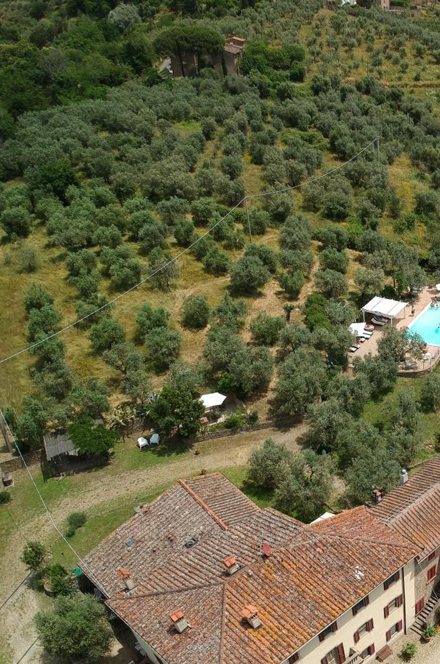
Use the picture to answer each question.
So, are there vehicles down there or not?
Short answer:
No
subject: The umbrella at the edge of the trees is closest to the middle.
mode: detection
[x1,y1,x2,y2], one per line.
[200,389,225,417]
